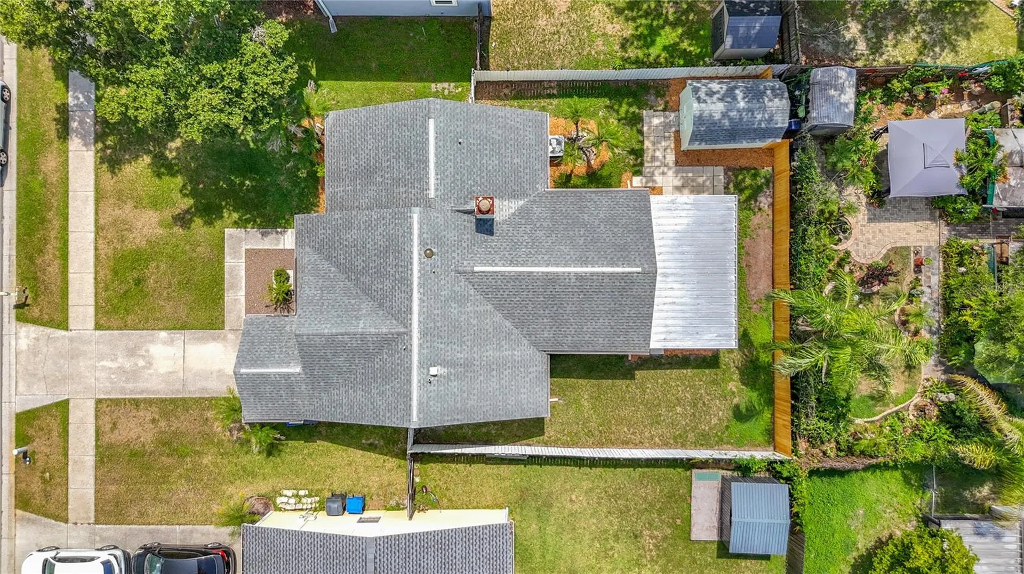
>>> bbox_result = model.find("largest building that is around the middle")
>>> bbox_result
[233,98,659,429]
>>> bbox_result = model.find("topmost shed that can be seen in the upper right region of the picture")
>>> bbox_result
[715,0,782,58]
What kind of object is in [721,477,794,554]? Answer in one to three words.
shed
